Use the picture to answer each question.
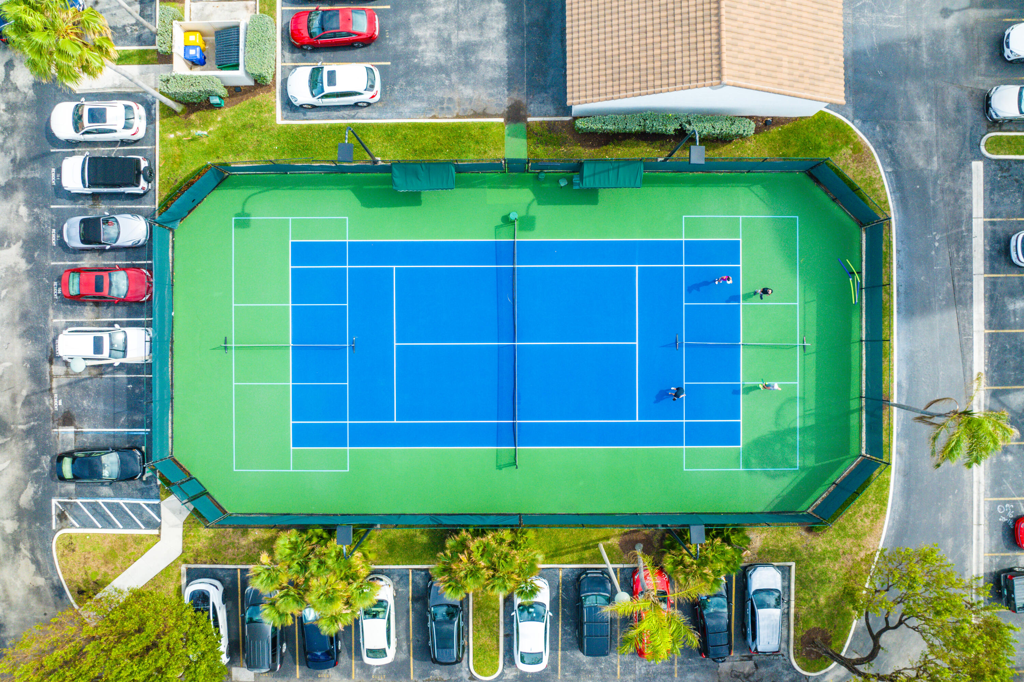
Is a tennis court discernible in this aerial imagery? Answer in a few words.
Yes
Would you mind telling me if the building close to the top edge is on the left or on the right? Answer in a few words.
right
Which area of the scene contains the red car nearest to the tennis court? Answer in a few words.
left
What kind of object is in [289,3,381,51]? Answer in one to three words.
car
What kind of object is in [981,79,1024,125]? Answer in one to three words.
car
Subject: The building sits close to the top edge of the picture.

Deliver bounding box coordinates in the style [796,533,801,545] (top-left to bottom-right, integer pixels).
[566,0,847,116]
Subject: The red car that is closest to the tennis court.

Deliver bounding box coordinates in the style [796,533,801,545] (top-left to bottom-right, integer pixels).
[58,263,154,306]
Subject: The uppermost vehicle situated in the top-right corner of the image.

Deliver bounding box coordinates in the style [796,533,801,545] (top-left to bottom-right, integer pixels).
[999,23,1024,64]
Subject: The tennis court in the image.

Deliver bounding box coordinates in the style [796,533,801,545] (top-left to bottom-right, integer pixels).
[173,171,862,513]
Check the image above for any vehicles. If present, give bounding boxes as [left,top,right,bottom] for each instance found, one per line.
[302,609,343,673]
[59,151,151,196]
[574,569,615,661]
[286,58,382,107]
[289,3,381,51]
[999,23,1024,64]
[1005,231,1024,268]
[53,444,149,487]
[997,568,1024,612]
[693,593,737,670]
[50,96,149,143]
[238,583,287,680]
[62,210,152,253]
[52,322,154,367]
[509,578,552,674]
[981,79,1024,125]
[359,573,397,668]
[1010,512,1024,549]
[740,562,788,658]
[58,263,154,306]
[423,581,467,670]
